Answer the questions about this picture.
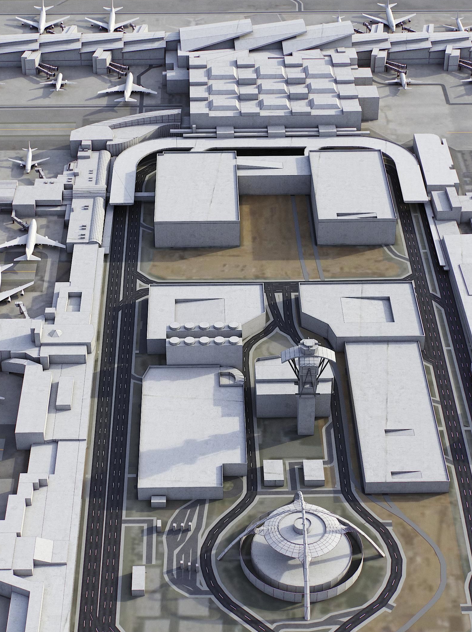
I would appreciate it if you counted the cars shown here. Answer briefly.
0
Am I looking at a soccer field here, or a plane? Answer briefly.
plane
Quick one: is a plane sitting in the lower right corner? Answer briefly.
No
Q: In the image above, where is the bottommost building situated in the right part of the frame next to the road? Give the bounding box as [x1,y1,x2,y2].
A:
[218,491,386,618]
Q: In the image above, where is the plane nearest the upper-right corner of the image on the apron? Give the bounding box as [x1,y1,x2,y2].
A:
[443,10,472,32]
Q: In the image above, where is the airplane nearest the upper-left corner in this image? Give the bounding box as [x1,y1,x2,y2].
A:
[15,5,70,34]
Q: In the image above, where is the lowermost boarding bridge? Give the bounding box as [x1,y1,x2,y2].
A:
[14,301,30,318]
